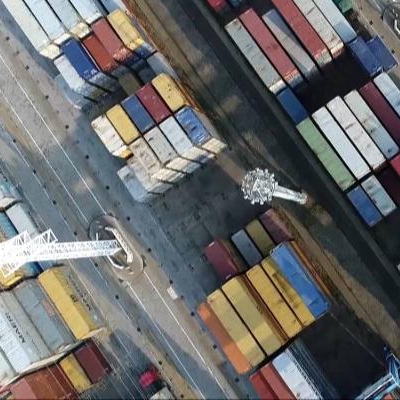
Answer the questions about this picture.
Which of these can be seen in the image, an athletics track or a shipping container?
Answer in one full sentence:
Visible in the photo is a shipping container.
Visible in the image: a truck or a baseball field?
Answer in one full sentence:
Looking from above, you can make out a truck.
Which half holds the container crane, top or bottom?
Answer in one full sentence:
The bottom half of the photo is where the container crane is.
